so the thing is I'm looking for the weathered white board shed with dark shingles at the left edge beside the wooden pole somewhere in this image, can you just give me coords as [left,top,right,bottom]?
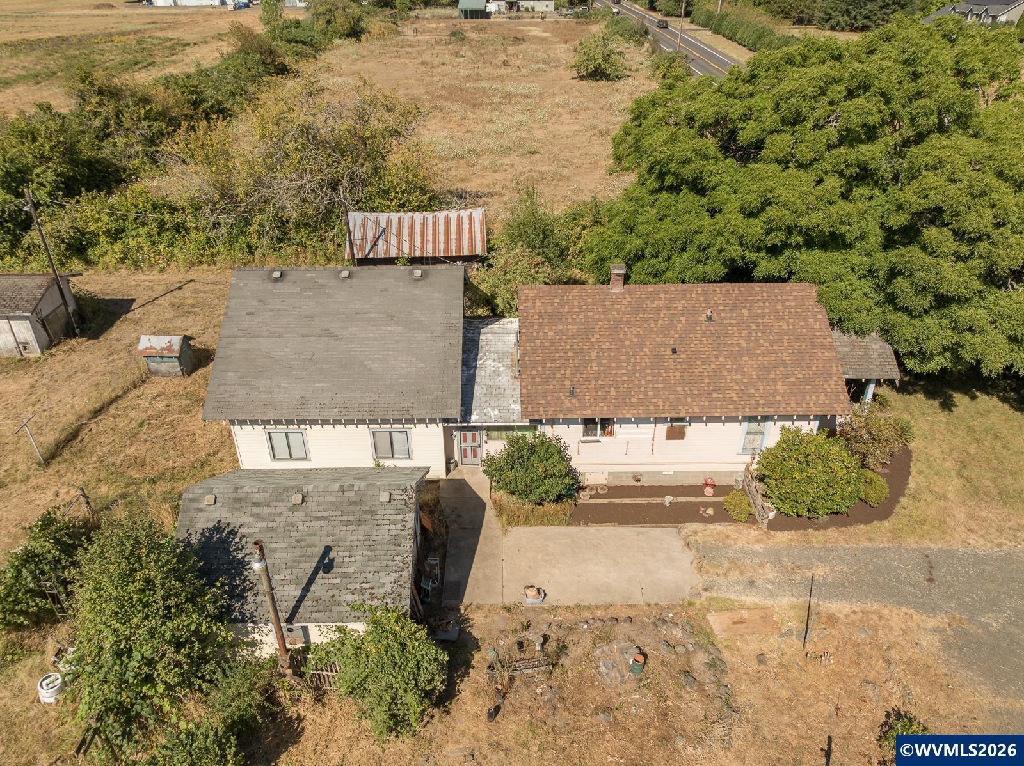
[0,273,88,354]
